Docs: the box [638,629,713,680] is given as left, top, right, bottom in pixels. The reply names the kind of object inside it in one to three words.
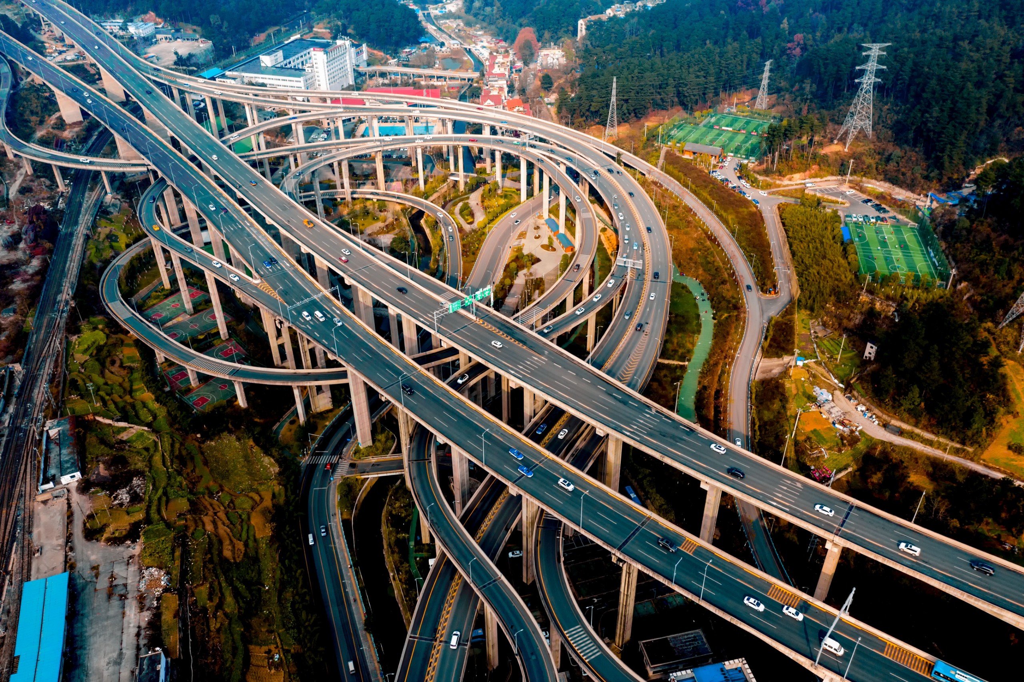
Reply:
building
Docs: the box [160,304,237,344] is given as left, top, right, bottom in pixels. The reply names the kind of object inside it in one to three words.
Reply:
basketball court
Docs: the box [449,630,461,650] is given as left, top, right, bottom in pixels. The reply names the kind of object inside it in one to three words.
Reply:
vehicle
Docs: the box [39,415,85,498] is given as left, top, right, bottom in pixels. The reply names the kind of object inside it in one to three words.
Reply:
building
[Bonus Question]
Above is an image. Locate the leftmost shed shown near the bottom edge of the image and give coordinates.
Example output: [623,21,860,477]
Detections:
[10,572,77,682]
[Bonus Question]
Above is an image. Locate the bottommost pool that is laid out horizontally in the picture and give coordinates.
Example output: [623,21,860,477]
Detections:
[356,122,440,139]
